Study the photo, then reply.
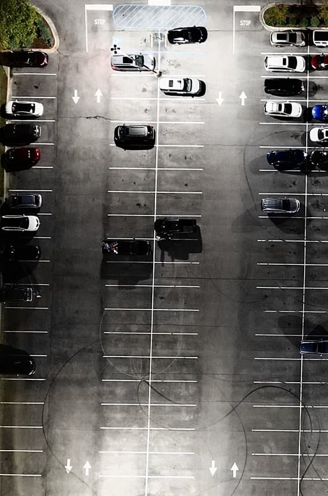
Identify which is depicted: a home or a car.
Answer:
car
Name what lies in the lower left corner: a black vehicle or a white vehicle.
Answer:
black vehicle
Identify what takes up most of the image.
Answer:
paved ground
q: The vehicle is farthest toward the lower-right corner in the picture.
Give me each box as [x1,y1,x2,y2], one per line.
[300,337,328,355]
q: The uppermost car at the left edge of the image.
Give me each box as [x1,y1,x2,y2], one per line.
[3,48,51,69]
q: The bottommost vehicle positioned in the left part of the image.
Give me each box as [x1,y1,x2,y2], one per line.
[0,354,39,373]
